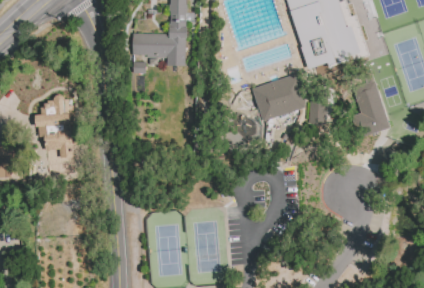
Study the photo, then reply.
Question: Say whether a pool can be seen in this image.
Yes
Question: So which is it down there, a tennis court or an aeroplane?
tennis court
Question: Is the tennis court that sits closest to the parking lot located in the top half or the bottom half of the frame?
bottom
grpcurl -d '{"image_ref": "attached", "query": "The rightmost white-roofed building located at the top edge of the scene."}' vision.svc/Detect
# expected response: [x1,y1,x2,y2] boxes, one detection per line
[286,0,361,72]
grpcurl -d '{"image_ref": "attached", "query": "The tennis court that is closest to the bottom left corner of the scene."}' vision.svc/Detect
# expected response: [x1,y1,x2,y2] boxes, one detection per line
[148,210,188,288]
